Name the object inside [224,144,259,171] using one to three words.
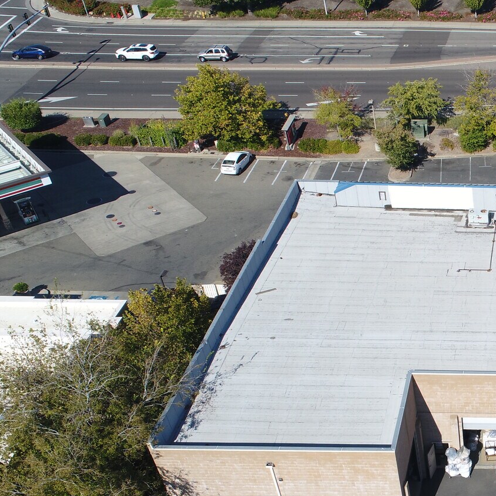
car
